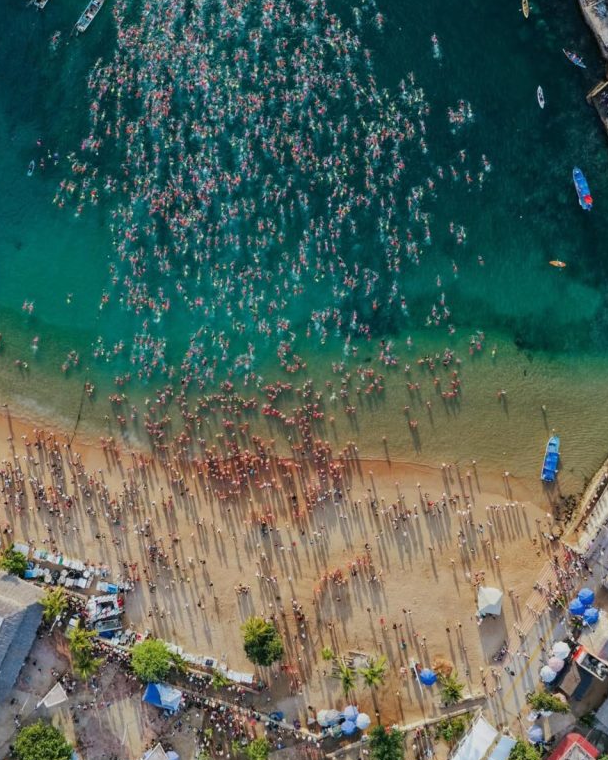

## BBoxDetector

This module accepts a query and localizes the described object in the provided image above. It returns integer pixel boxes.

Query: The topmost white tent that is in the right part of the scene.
[476,583,502,612]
